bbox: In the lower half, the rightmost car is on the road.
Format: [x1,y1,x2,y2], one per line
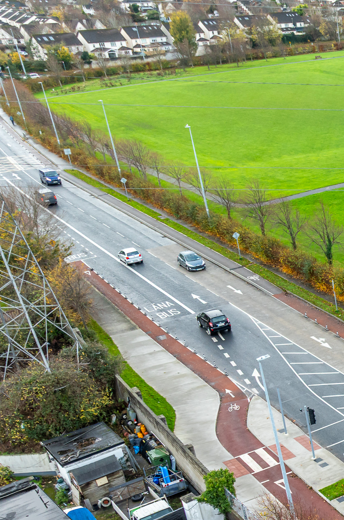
[194,308,232,336]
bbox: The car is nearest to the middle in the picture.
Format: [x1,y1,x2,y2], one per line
[175,248,206,270]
